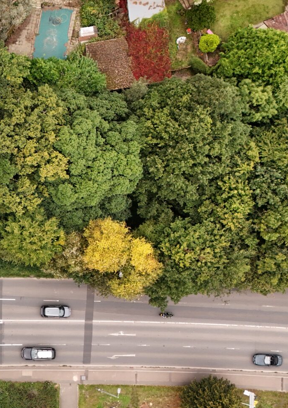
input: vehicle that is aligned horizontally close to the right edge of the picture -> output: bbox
[250,352,283,368]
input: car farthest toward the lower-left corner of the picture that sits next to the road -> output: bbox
[20,345,57,362]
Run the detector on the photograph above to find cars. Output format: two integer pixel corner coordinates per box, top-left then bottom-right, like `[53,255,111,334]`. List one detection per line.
[250,352,283,368]
[20,345,57,362]
[39,304,71,320]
